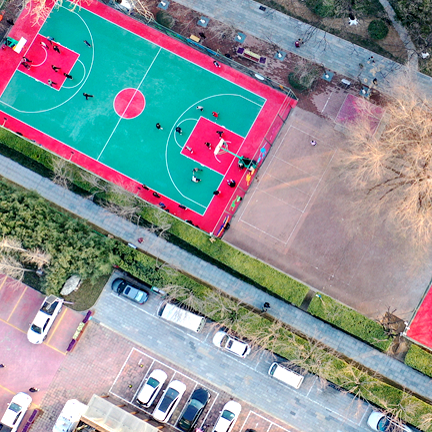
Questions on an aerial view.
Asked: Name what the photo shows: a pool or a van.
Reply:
van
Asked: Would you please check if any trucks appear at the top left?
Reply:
No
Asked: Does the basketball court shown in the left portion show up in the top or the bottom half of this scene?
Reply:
top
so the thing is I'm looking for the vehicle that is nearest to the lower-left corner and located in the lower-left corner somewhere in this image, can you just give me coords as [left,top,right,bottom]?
[0,392,33,432]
